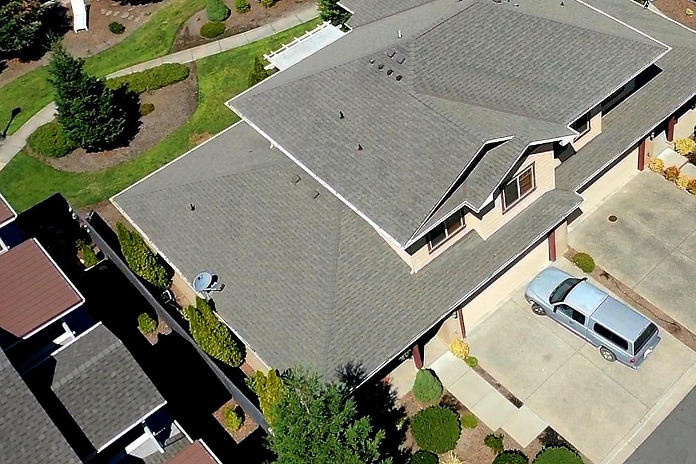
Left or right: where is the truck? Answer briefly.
right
